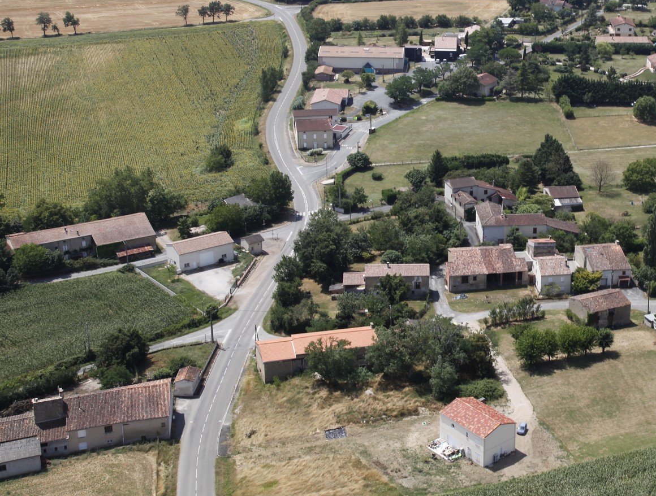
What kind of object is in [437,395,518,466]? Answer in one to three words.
house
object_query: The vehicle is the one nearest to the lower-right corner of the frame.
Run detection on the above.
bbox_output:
[518,420,530,435]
